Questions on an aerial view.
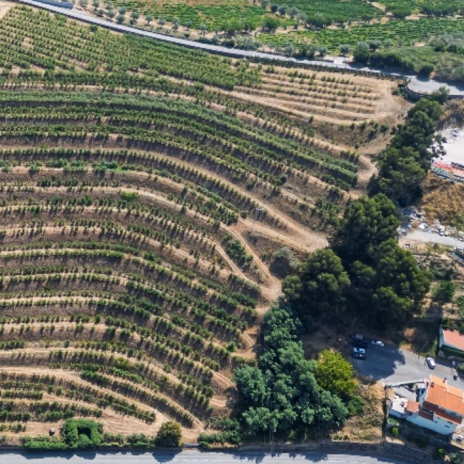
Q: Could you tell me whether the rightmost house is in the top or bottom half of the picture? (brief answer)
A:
bottom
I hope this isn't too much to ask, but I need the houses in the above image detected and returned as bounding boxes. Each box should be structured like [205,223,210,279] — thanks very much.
[435,332,464,366]
[368,374,463,439]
